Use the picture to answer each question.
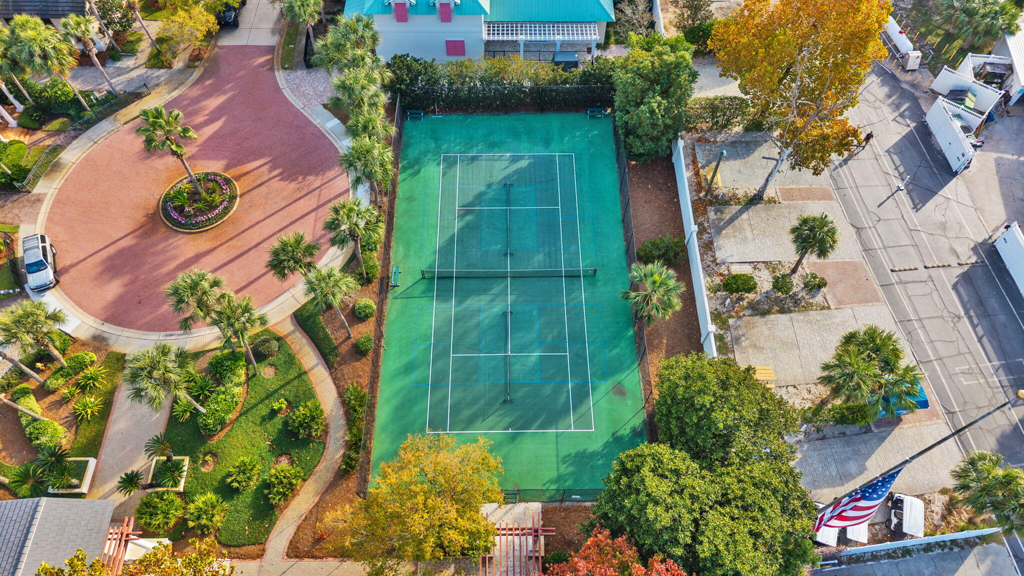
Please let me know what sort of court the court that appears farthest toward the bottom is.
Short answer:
tennis court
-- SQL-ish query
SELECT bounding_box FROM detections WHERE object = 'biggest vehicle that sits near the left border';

[18,238,60,299]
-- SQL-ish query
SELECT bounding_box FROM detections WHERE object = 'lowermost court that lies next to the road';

[370,113,650,501]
